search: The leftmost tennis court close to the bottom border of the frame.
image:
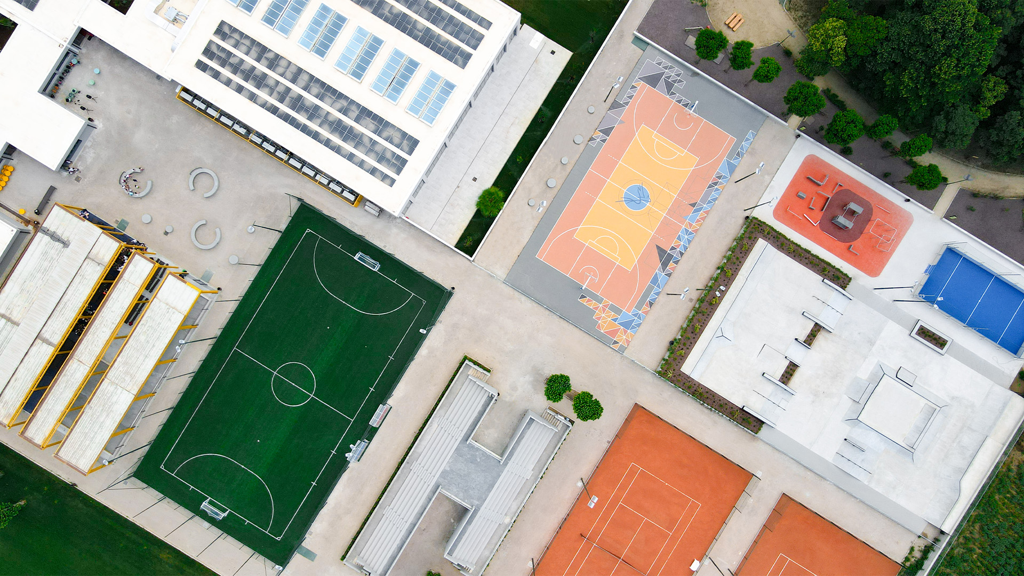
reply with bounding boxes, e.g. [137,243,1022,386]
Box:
[533,404,754,576]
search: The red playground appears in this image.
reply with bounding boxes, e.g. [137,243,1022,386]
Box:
[771,153,914,280]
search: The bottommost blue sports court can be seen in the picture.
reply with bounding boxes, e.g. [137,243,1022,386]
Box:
[912,243,1024,365]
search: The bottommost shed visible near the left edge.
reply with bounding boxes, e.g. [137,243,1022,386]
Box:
[0,215,30,283]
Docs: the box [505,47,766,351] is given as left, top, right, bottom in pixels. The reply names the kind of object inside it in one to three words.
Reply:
basketball court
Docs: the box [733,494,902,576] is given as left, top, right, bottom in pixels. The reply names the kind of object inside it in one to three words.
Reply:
tennis court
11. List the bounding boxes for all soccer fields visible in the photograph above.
[133,203,453,571]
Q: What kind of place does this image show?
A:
sports ground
